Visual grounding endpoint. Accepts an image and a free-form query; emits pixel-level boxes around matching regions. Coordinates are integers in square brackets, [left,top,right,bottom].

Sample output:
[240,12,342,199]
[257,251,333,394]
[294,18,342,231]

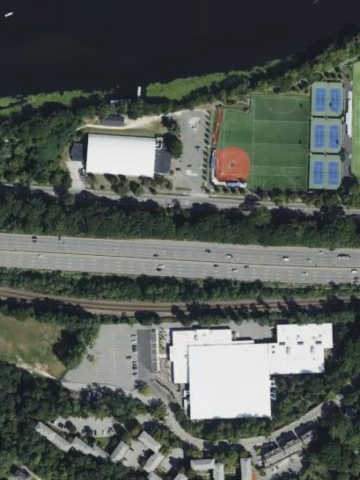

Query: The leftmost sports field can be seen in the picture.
[211,95,308,191]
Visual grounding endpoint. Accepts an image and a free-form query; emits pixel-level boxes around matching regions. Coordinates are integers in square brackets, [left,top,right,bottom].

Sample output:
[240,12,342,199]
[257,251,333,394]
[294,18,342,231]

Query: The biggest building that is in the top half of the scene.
[87,134,157,178]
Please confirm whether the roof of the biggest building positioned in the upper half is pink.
No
